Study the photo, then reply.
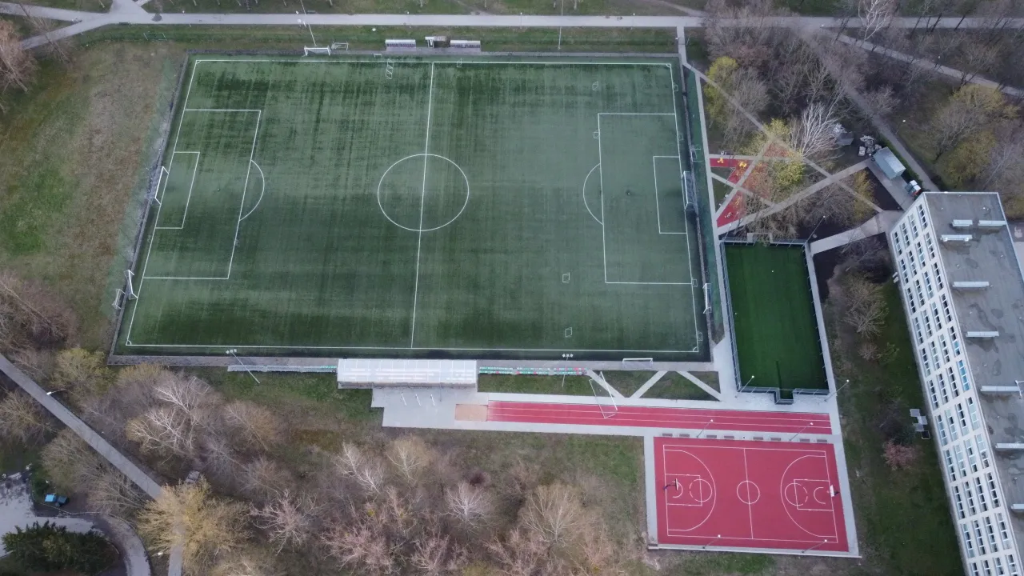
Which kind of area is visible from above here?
sports ground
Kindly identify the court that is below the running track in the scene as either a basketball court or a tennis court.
basketball court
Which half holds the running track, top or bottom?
bottom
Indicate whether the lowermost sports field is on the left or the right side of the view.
right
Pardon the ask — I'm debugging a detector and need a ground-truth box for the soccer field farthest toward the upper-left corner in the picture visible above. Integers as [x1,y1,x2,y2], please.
[112,52,711,362]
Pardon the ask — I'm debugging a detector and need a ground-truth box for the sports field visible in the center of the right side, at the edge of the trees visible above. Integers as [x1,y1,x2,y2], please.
[723,233,828,402]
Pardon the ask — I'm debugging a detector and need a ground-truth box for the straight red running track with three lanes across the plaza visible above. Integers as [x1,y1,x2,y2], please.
[487,399,832,434]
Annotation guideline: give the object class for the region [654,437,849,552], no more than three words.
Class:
basketball court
